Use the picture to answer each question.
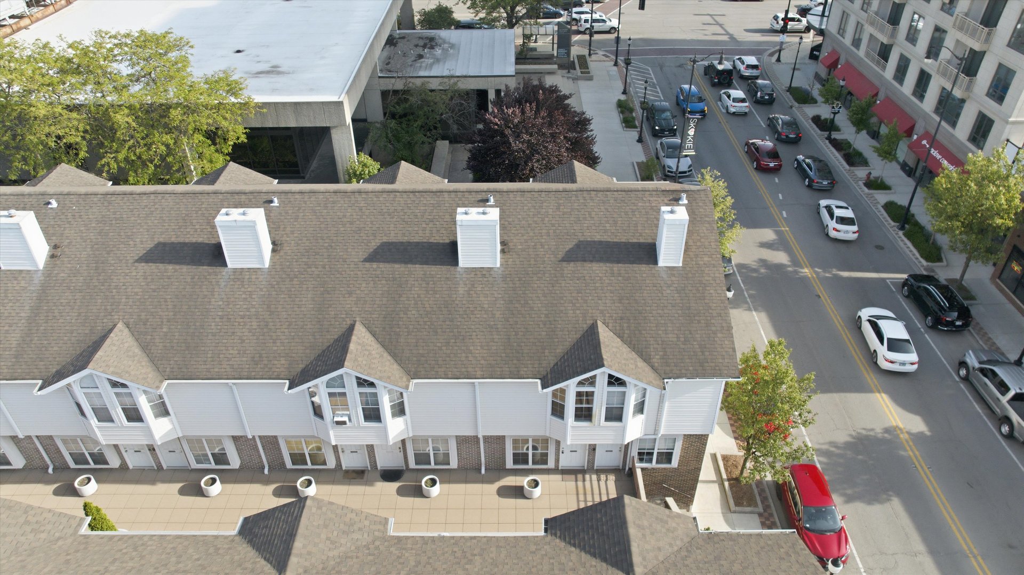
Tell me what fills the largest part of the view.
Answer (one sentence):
For the most part, this view shows buildings.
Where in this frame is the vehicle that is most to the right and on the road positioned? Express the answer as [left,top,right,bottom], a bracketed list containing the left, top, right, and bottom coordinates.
[957,344,1024,444]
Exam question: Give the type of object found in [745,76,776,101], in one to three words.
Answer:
car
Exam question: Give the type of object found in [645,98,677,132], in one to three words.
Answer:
truck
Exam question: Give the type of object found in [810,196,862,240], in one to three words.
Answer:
car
